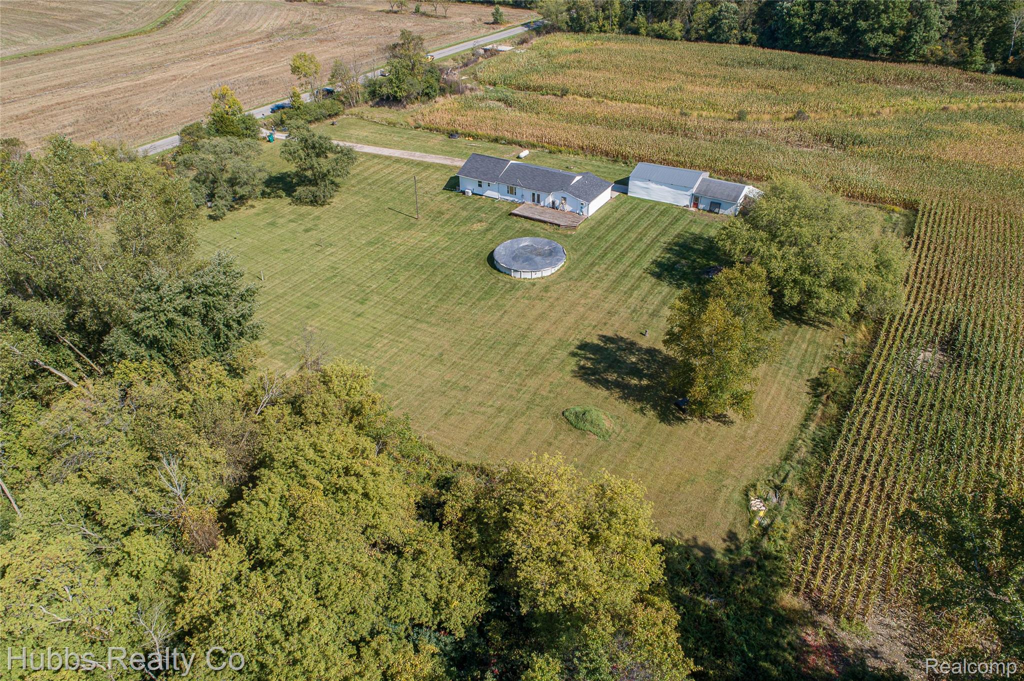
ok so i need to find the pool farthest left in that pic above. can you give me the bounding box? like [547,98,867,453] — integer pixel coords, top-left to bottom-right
[492,237,567,279]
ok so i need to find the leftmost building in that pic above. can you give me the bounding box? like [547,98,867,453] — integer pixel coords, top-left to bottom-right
[455,153,615,220]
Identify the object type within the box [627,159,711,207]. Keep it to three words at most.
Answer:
barn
